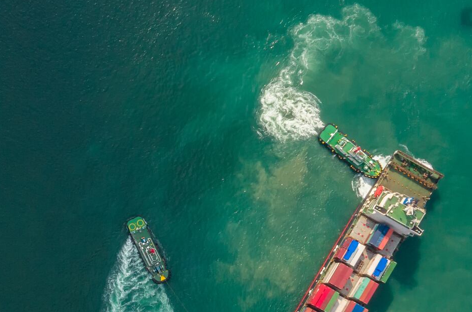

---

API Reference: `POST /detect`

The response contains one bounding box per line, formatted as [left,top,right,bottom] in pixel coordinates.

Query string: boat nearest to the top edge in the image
[313,123,384,177]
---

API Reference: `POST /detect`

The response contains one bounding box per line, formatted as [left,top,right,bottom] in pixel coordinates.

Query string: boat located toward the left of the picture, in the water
[125,217,168,285]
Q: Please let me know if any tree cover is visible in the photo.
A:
No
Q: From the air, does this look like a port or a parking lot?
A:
port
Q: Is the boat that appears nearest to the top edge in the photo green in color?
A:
Yes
